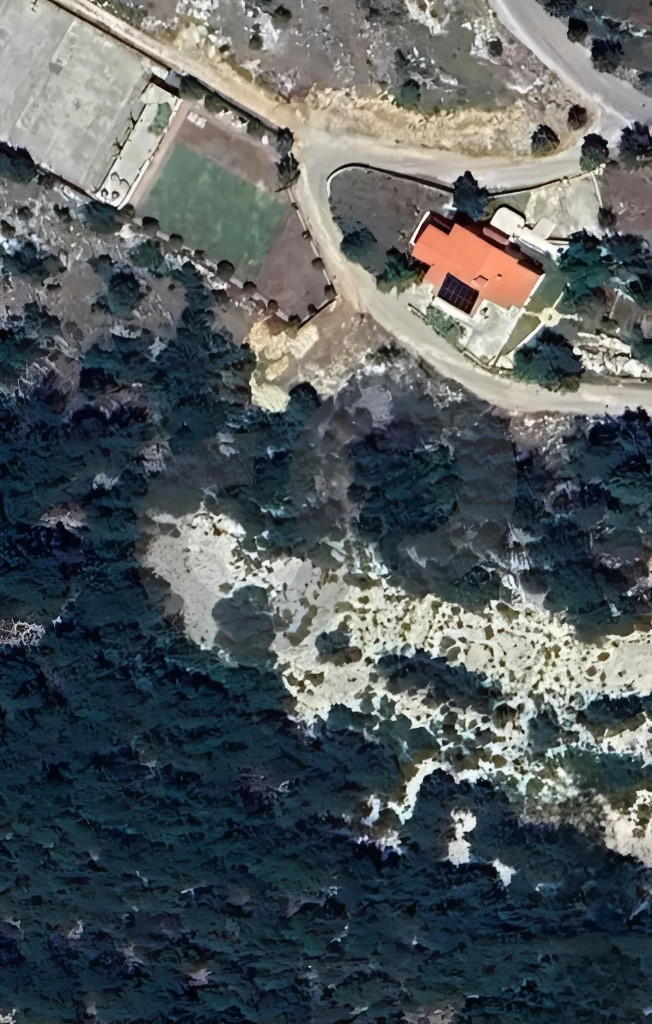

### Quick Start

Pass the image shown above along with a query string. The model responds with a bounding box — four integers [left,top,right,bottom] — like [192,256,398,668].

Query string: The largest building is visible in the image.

[412,211,544,324]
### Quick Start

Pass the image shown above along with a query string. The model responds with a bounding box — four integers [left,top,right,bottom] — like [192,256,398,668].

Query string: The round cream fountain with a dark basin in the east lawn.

[540,306,561,327]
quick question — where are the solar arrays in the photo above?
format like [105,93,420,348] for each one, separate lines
[439,271,480,312]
